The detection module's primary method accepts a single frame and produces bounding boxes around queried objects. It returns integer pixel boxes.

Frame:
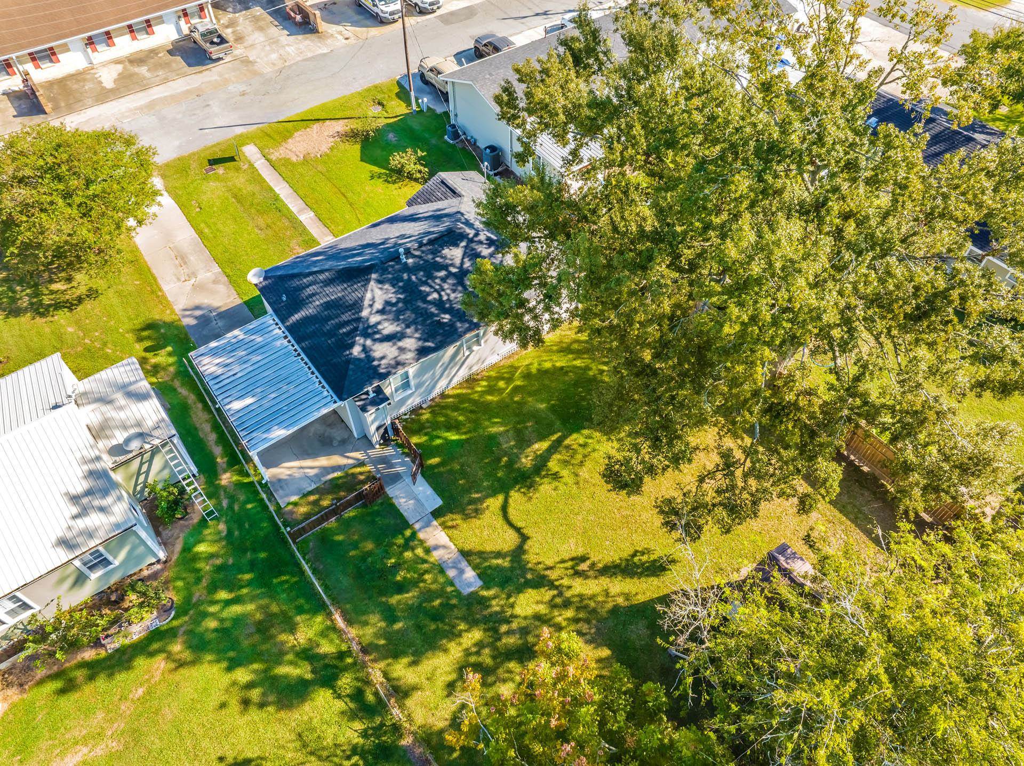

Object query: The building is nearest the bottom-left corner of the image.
[0,349,205,648]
